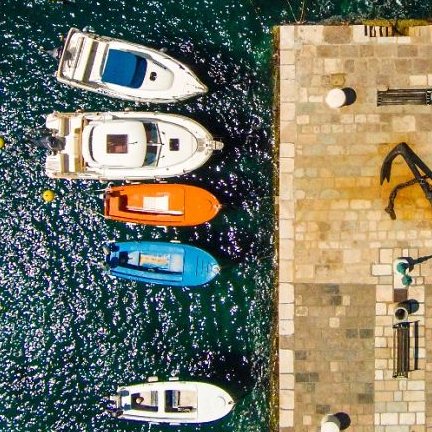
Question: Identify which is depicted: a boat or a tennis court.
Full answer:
Visible in the photo is a boat.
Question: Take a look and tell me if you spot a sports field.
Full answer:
No, there's no sports field here.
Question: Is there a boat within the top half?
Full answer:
Yes, within the top half there is a boat.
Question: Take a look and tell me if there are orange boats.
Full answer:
Yes, this view includes an orange boat.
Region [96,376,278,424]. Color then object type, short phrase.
white boat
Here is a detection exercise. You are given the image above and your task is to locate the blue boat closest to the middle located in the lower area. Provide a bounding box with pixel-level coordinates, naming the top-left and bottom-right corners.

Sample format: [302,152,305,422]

[93,239,275,287]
